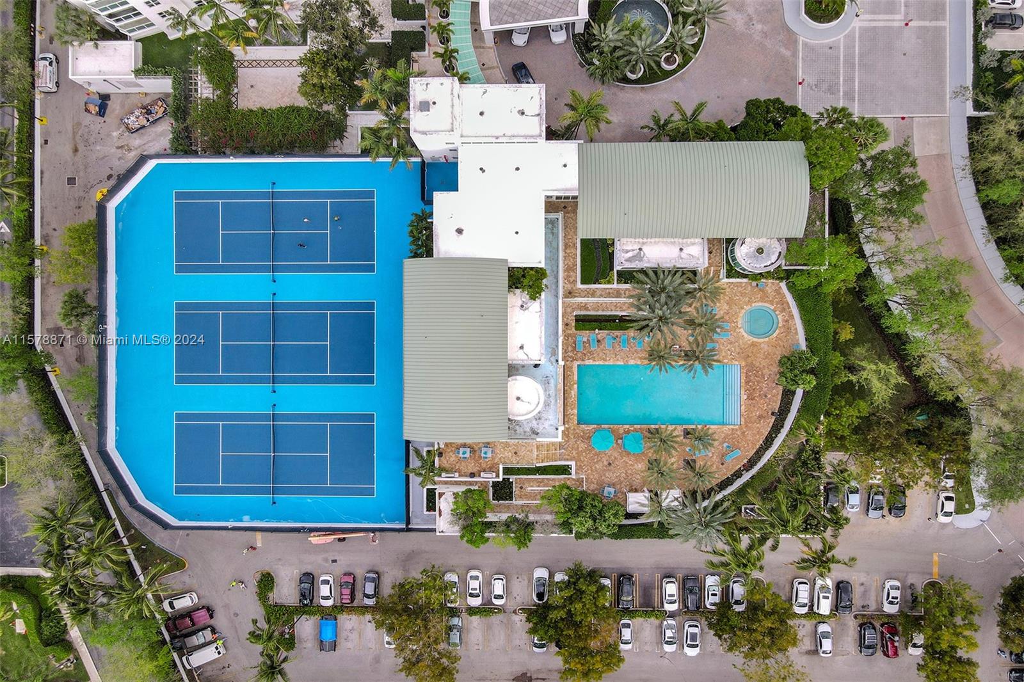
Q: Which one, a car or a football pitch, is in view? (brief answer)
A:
car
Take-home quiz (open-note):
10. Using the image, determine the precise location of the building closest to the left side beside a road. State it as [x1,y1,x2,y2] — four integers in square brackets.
[68,41,171,91]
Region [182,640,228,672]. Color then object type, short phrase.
white van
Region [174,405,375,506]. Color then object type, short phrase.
blue tennis court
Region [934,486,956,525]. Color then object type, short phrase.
white car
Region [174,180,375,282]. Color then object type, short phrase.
blue tennis court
